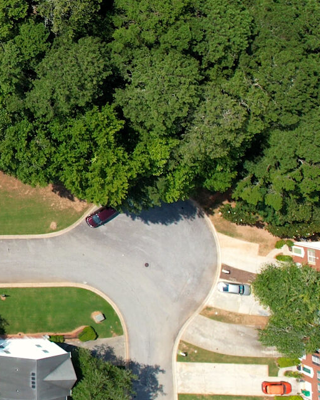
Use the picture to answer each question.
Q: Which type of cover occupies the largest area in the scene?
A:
trees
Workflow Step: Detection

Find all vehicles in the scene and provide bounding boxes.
[217,281,250,296]
[84,205,119,229]
[259,380,292,397]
